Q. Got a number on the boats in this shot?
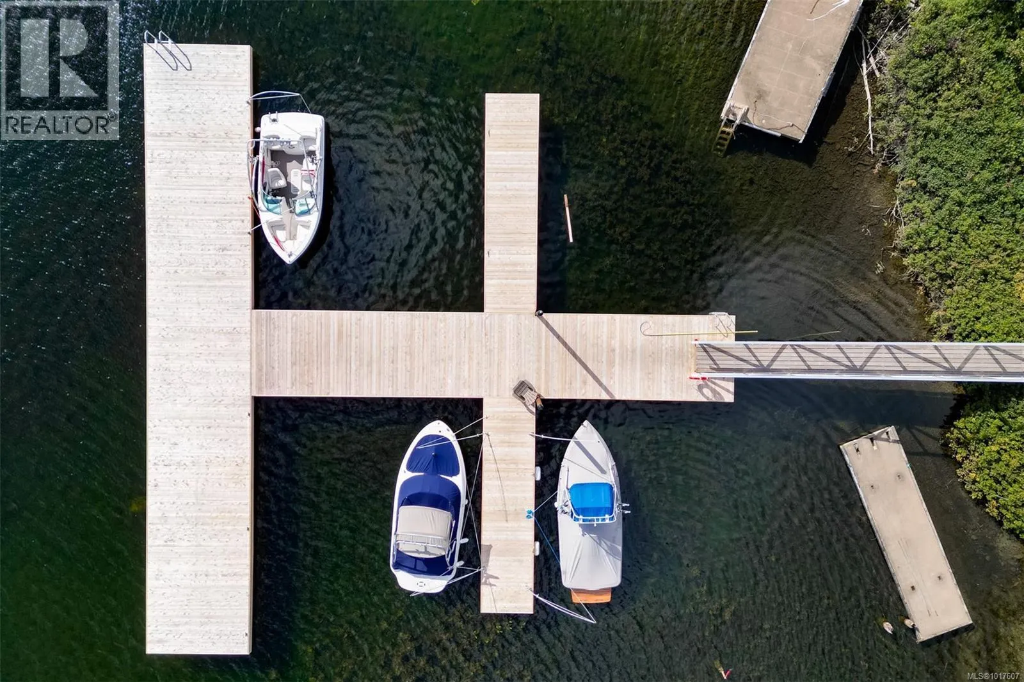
3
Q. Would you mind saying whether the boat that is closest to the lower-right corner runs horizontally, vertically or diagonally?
vertically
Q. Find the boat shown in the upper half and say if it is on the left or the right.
left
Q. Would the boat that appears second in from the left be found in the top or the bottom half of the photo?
bottom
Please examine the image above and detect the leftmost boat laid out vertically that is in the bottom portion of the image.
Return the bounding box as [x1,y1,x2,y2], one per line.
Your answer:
[390,419,467,593]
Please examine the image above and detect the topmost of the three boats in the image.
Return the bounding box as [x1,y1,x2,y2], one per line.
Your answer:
[247,111,327,264]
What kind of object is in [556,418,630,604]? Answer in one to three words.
boat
